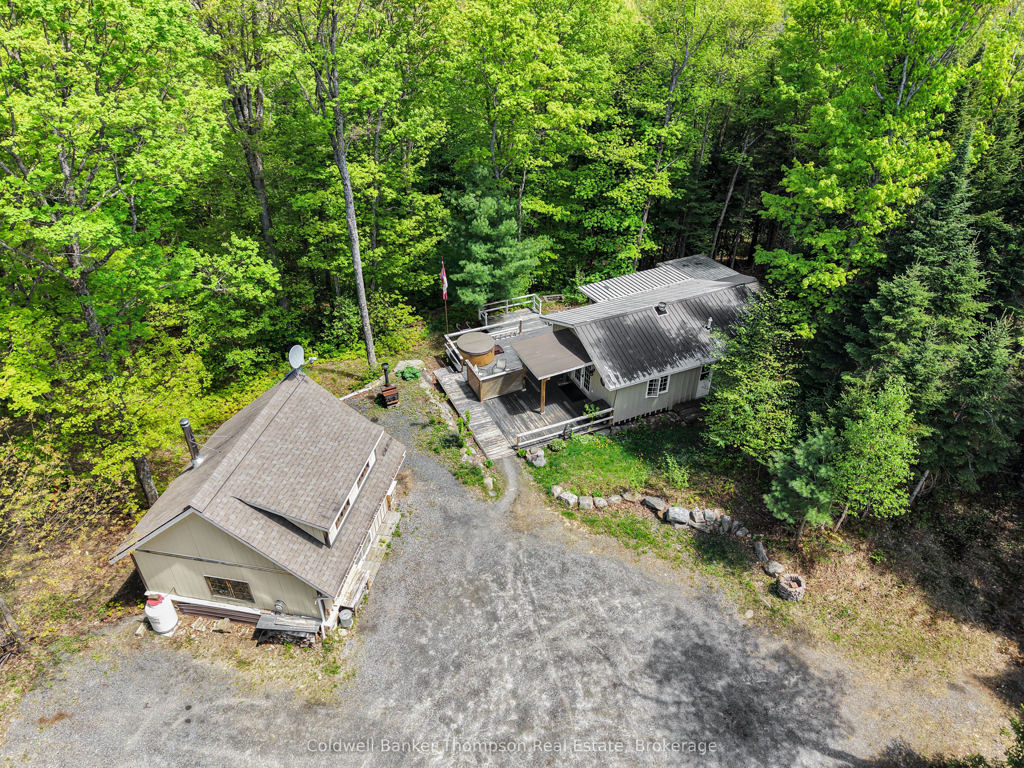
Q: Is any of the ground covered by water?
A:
No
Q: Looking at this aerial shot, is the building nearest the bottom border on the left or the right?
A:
left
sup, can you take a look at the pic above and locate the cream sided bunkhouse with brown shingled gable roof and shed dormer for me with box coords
[108,372,408,645]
